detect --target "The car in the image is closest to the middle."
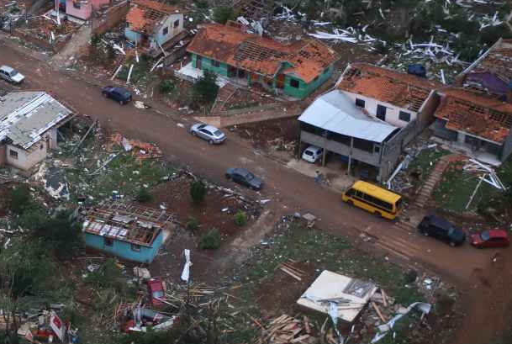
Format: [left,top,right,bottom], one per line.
[226,167,264,190]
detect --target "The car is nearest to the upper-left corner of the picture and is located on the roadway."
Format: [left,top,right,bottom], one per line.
[0,63,25,84]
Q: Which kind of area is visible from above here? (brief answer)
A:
residential area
